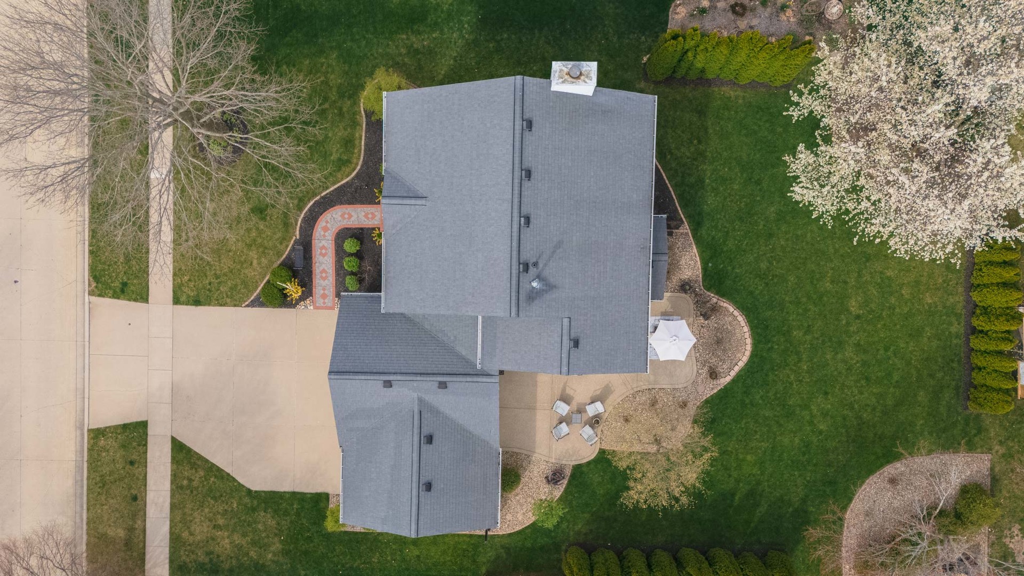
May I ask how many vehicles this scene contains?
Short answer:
0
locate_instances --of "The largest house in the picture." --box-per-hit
[328,61,668,538]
